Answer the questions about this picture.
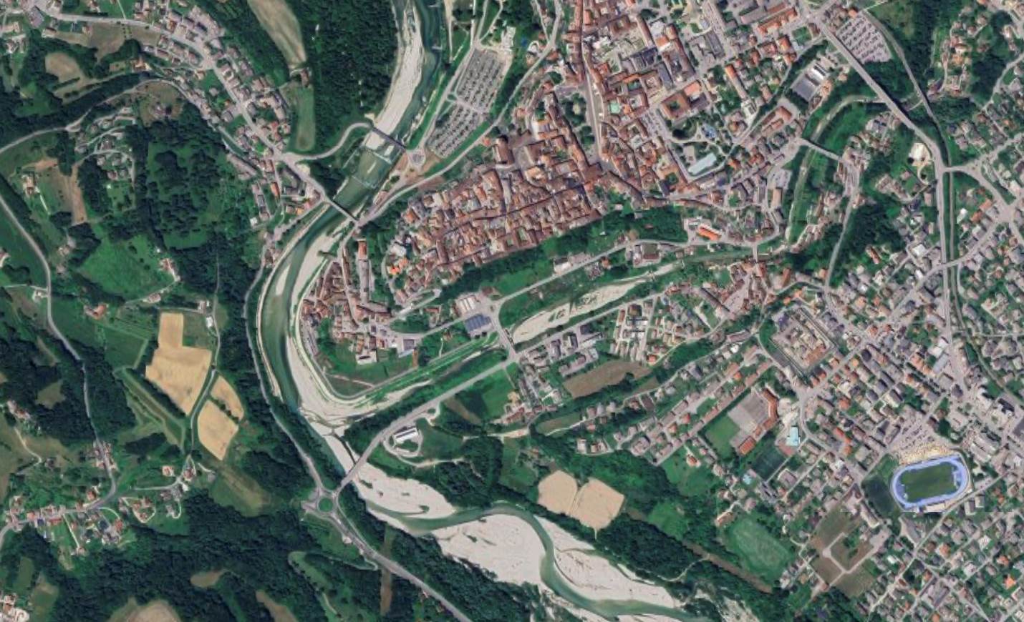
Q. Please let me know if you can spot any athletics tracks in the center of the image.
No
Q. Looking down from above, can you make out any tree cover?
Yes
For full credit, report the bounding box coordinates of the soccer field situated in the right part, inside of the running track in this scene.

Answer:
[904,462,958,502]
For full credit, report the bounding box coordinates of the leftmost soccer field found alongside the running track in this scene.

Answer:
[863,478,900,518]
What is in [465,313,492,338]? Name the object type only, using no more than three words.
building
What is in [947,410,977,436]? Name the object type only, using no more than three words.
building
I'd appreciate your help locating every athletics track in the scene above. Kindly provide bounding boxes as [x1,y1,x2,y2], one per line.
[892,456,970,508]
